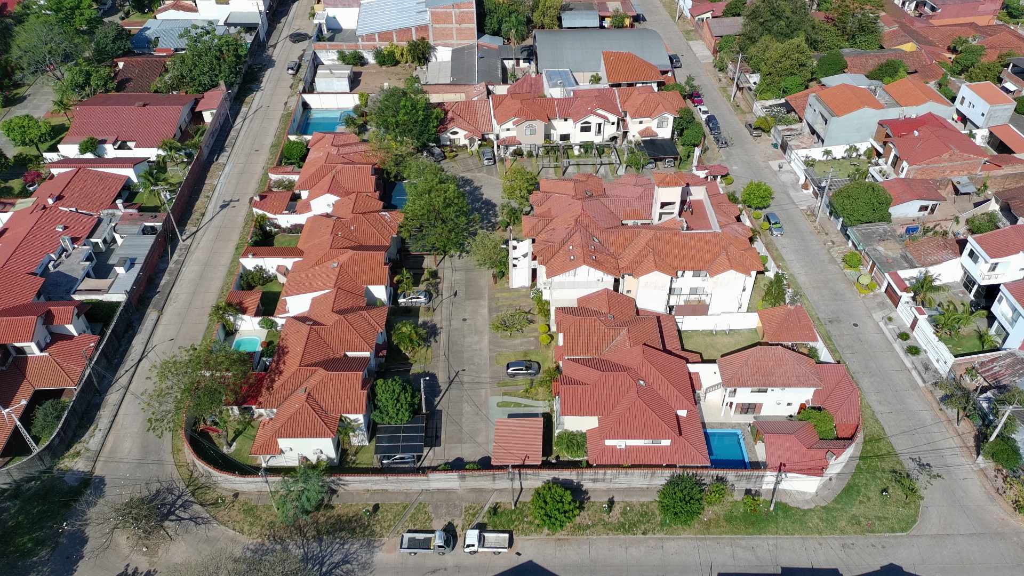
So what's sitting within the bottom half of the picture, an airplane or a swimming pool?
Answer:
swimming pool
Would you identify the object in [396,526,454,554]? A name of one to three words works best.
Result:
truck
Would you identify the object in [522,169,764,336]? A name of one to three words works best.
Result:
building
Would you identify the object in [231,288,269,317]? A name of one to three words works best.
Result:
shed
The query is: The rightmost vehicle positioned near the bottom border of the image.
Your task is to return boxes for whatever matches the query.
[459,525,515,551]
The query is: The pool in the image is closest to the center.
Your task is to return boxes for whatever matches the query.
[388,180,423,209]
